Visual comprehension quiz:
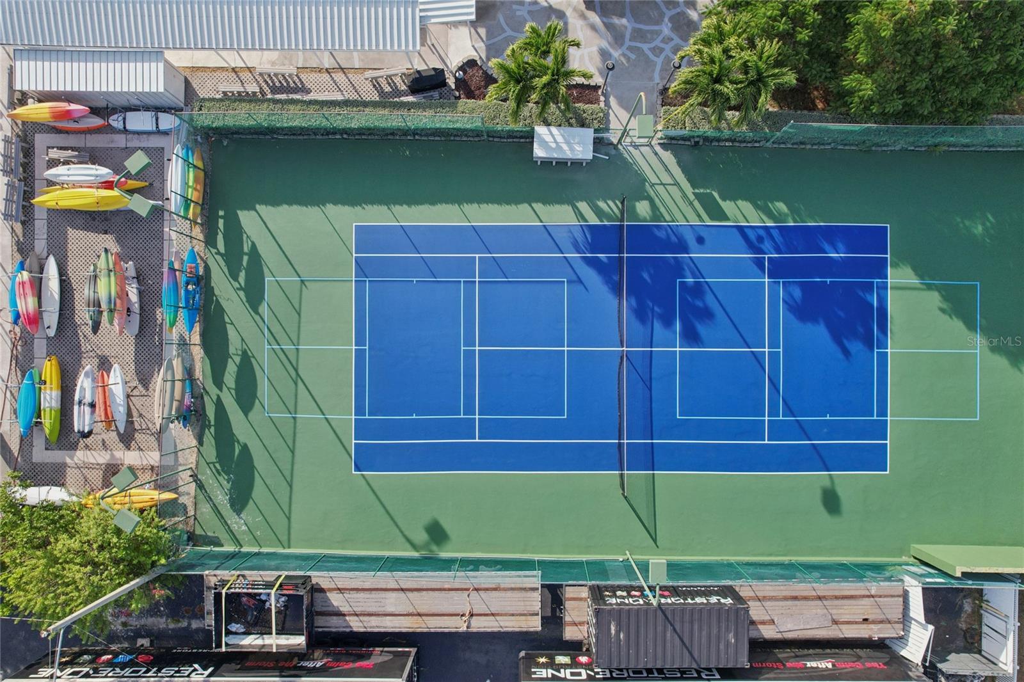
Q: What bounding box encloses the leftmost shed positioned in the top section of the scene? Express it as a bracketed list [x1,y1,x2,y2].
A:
[14,52,187,106]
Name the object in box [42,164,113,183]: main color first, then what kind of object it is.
white boat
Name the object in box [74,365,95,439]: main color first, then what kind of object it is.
white boat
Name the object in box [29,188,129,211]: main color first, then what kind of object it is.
yellow boat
